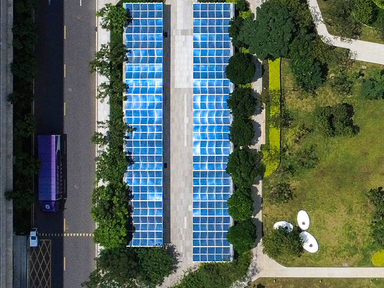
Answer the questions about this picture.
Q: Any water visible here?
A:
No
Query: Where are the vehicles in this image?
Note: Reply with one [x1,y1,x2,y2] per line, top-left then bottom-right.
[28,228,40,247]
[38,134,64,211]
